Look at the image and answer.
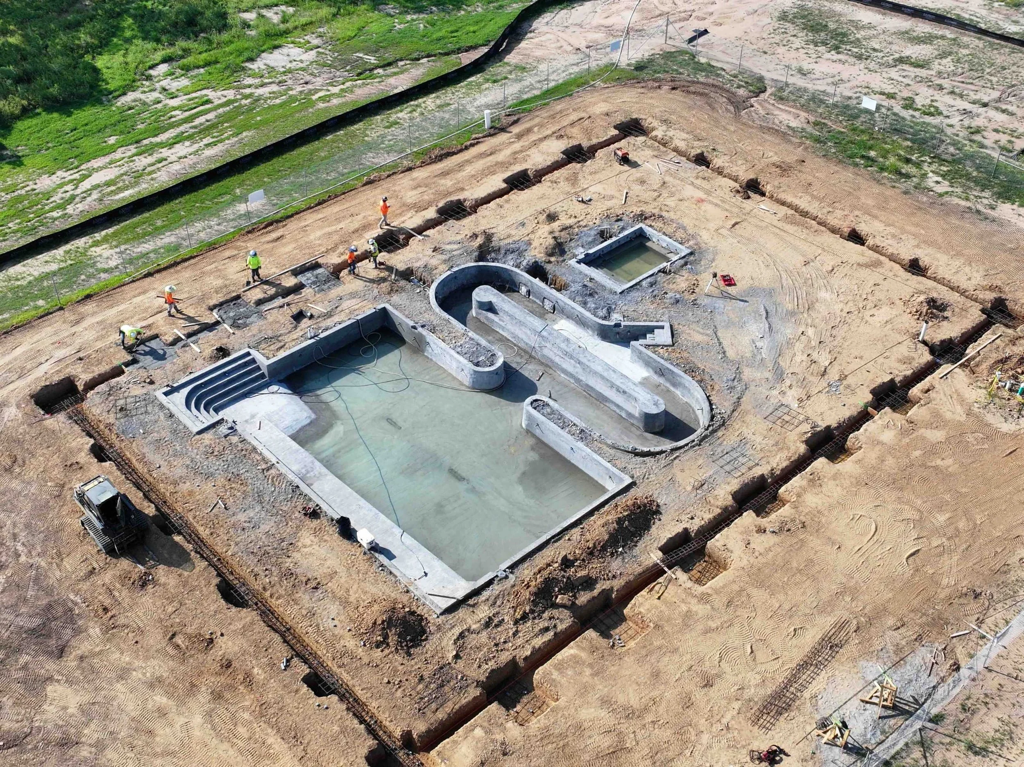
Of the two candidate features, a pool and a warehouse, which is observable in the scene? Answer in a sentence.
The image shows a pool.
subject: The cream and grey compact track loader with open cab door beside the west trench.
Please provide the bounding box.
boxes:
[72,476,158,572]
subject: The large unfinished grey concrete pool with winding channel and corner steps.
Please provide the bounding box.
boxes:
[154,264,709,617]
